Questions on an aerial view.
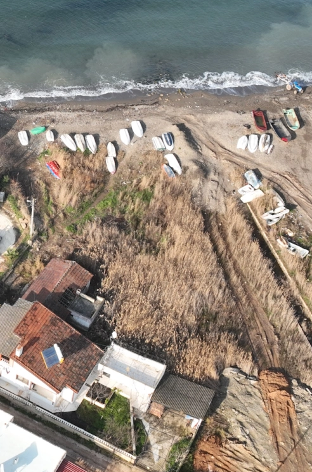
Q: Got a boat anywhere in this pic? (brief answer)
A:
Yes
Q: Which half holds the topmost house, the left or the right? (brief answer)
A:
left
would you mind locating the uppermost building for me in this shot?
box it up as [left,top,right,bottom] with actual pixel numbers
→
[22,259,103,336]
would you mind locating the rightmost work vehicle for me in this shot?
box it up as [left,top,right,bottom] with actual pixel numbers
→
[285,74,309,93]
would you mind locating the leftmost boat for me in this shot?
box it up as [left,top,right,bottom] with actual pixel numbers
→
[16,130,28,149]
